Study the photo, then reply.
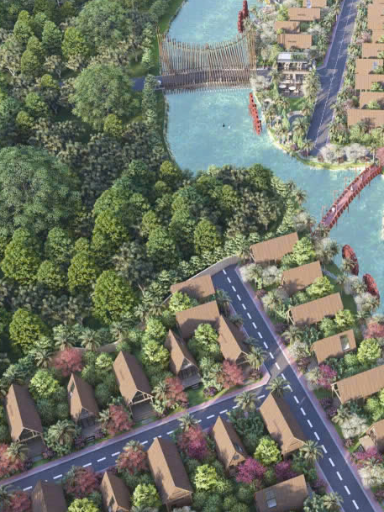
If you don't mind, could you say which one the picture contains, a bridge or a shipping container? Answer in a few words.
bridge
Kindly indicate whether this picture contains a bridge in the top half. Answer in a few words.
Yes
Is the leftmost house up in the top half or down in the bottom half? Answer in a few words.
bottom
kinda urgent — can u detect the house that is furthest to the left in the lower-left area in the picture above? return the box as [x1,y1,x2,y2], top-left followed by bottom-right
[5,385,42,455]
